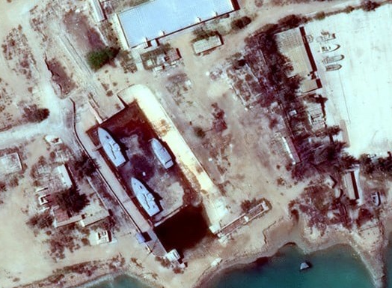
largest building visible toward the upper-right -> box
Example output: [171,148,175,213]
[274,27,317,78]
